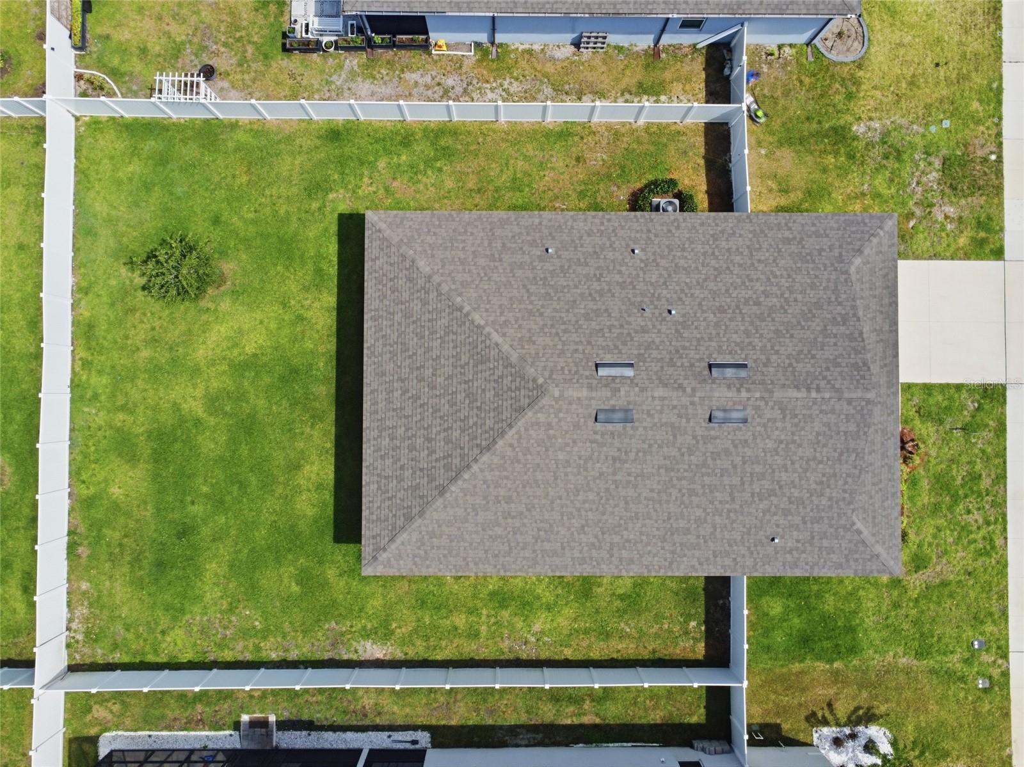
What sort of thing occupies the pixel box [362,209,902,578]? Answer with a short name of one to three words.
house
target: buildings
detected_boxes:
[341,0,861,48]
[362,209,902,578]
[225,742,837,767]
